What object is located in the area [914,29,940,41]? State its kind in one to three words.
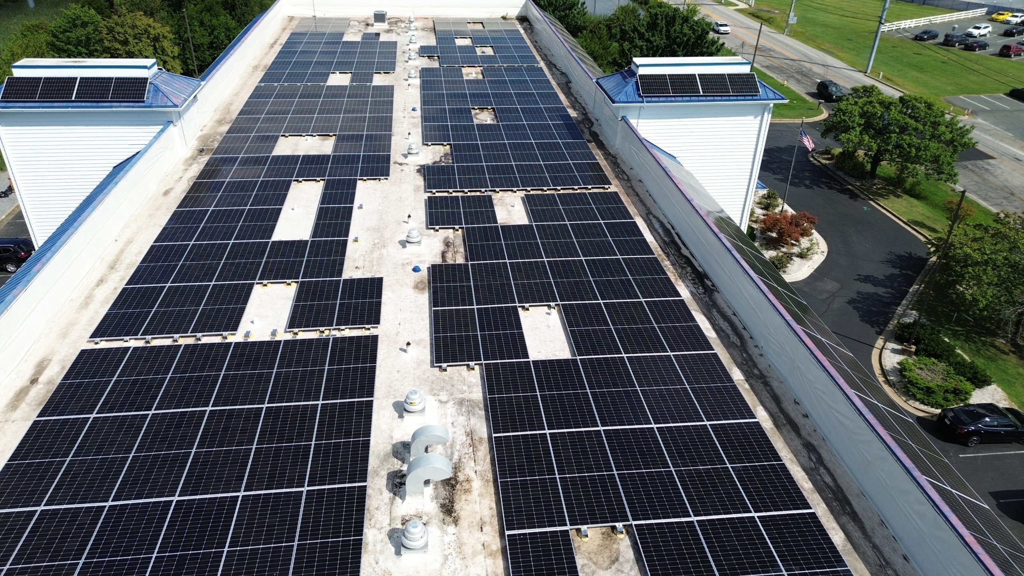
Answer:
vehicle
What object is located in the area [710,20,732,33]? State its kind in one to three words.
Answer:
vehicle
